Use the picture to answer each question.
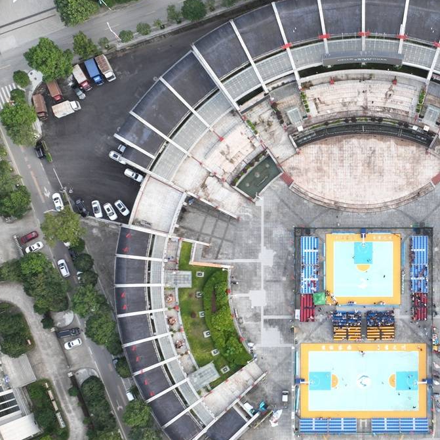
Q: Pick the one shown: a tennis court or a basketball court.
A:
basketball court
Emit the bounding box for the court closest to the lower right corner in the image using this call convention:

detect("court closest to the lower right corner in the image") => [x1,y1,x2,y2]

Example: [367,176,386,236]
[301,343,427,428]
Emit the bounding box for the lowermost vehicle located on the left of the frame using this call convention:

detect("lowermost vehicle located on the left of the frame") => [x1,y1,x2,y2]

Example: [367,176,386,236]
[123,387,137,402]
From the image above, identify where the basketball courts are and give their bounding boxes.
[301,343,427,428]
[326,233,401,306]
